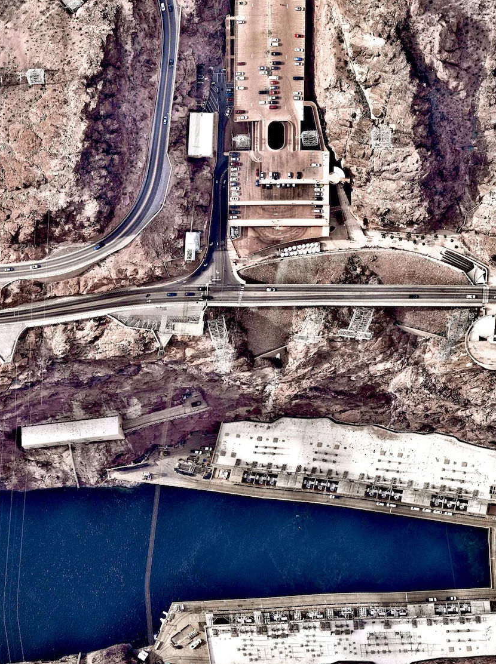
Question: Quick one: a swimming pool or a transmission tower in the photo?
transmission tower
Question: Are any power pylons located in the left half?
Yes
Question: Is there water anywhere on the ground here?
Yes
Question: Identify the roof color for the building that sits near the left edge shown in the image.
white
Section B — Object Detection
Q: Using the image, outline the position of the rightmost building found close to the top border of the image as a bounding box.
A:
[225,0,342,257]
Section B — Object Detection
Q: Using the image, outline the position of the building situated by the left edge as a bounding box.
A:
[21,417,128,452]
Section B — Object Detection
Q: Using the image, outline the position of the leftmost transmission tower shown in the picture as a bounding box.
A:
[26,68,43,89]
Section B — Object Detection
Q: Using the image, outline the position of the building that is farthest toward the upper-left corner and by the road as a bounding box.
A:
[189,112,218,158]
